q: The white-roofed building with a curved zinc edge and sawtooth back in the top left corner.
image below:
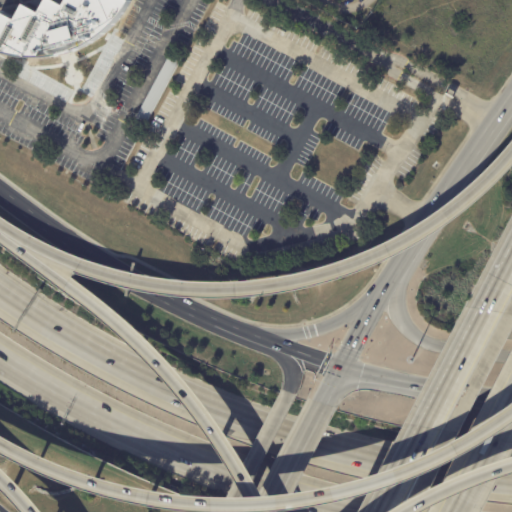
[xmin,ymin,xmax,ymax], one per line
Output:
[0,0,128,58]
